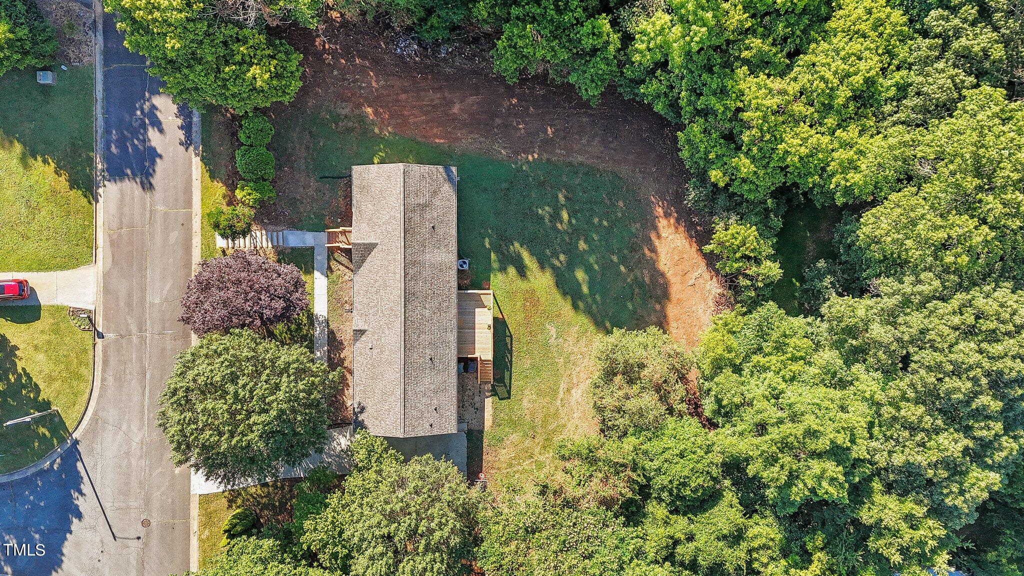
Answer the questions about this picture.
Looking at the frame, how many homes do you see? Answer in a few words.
1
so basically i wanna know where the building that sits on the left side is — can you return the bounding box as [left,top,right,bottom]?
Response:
[349,162,465,437]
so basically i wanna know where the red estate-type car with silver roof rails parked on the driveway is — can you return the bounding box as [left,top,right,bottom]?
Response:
[0,278,32,302]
